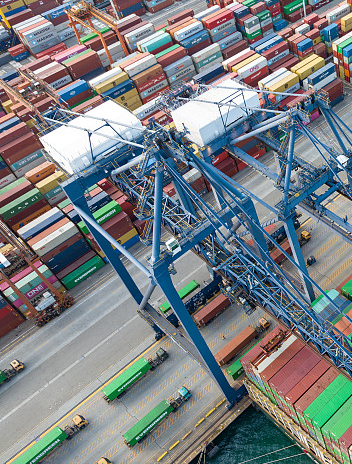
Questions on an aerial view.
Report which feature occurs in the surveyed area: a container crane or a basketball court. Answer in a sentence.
The image shows a container crane.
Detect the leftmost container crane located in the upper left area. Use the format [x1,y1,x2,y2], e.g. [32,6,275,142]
[2,77,69,127]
